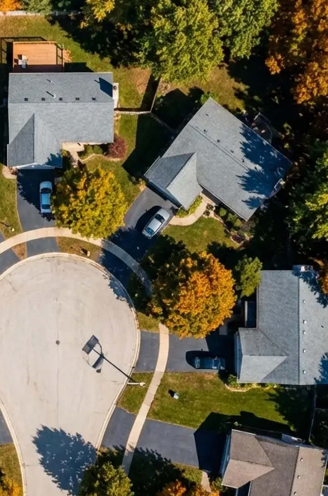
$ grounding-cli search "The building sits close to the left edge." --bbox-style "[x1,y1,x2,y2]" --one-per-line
[6,72,120,169]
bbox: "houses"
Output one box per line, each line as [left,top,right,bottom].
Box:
[233,263,328,386]
[6,72,120,169]
[143,97,291,222]
[218,424,328,496]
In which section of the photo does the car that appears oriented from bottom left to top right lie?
center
